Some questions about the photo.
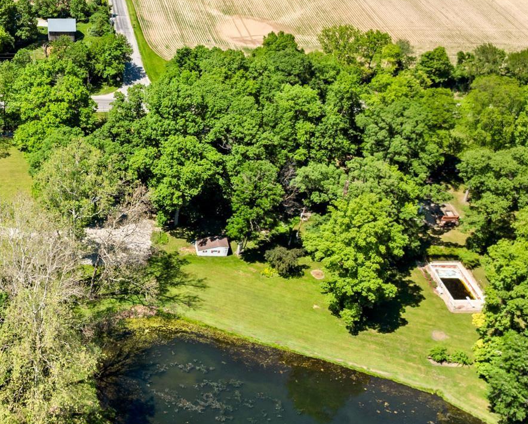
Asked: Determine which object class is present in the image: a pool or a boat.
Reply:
pool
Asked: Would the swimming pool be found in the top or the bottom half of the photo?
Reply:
bottom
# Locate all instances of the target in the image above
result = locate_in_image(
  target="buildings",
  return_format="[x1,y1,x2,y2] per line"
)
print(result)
[48,18,76,41]
[195,234,231,256]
